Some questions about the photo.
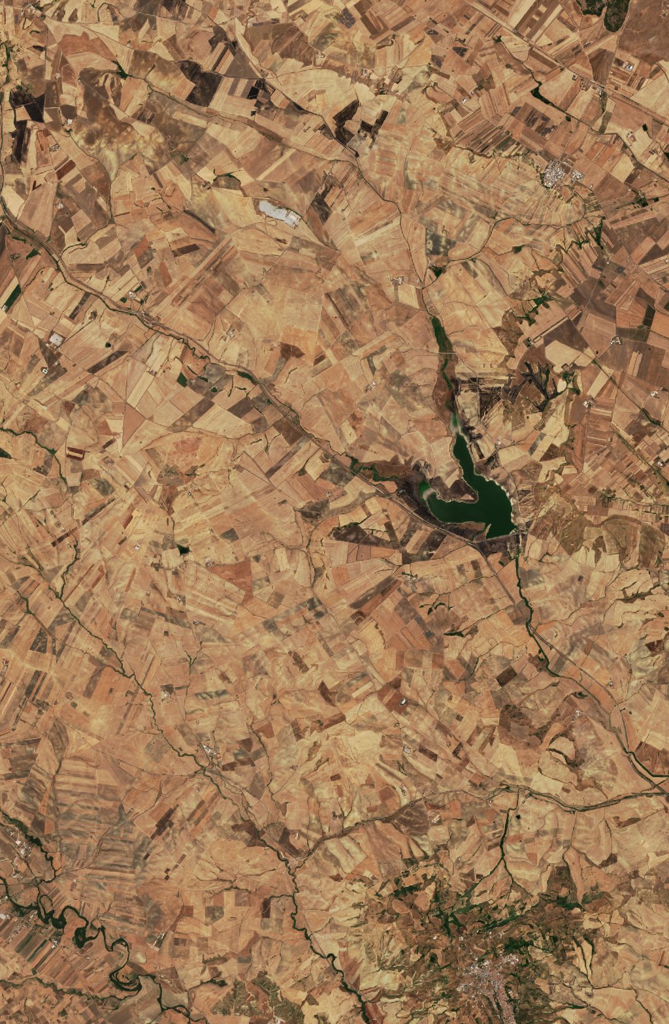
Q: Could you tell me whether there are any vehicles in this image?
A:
No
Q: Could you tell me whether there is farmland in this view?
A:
Yes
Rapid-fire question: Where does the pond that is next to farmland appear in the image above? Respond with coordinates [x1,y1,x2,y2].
[426,435,516,537]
